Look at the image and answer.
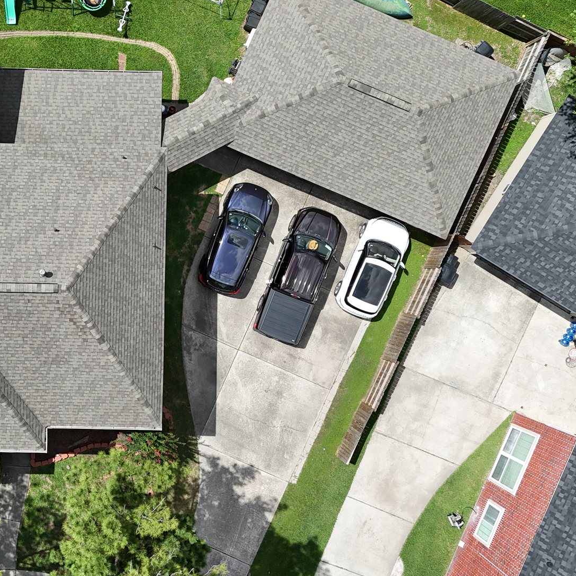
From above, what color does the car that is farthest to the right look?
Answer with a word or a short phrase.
white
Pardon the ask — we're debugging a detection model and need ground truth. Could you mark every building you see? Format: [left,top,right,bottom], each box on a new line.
[454,417,576,576]
[225,0,520,241]
[0,65,170,455]
[463,93,576,314]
